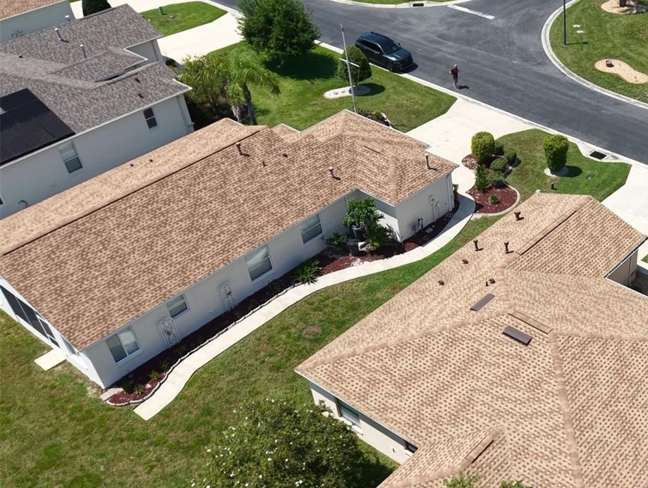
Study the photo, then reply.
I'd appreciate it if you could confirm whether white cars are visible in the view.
No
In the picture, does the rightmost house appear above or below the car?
below it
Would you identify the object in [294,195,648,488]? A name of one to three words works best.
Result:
house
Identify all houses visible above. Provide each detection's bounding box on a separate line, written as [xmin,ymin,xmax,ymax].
[294,195,648,488]
[0,109,460,388]
[0,3,203,215]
